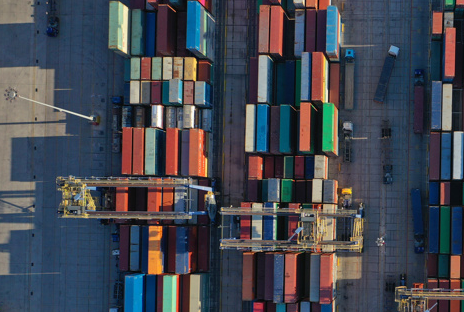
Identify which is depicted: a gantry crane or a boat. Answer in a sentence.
Visible in the photo is a gantry crane.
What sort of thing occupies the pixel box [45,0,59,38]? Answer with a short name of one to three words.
vehicle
